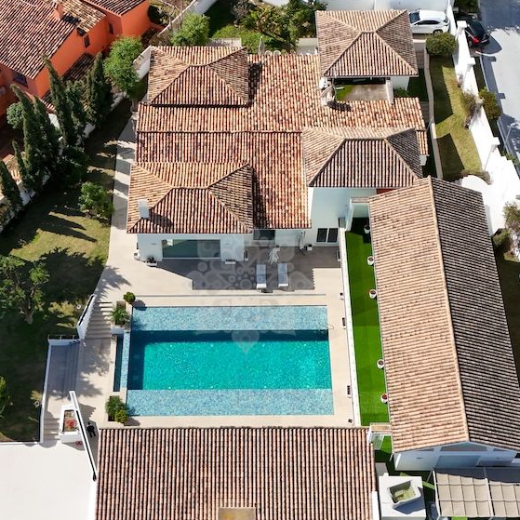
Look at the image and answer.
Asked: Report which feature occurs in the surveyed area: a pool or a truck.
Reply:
pool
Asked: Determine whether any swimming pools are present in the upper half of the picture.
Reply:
No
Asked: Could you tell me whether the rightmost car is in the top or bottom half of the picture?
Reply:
top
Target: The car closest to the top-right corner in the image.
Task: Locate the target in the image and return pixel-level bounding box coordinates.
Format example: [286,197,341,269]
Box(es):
[458,12,496,47]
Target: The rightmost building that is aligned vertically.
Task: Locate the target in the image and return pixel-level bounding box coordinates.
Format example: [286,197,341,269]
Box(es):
[369,178,520,469]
